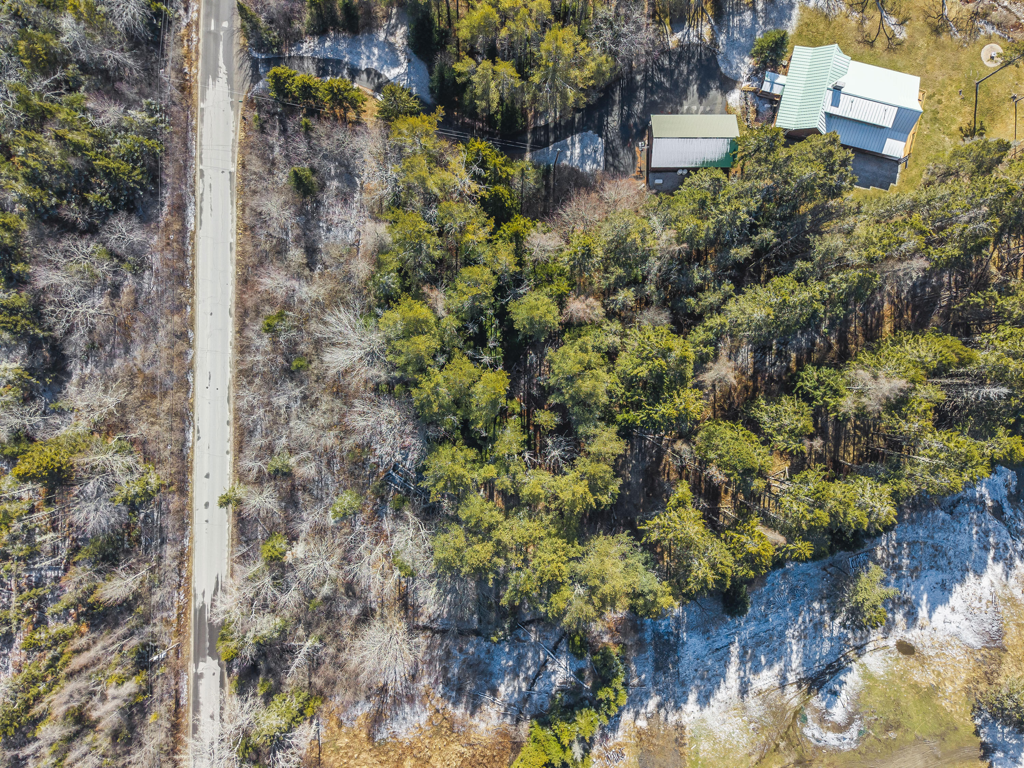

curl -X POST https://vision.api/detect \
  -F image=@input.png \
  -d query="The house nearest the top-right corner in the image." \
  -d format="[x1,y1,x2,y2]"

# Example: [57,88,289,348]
[739,42,927,174]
